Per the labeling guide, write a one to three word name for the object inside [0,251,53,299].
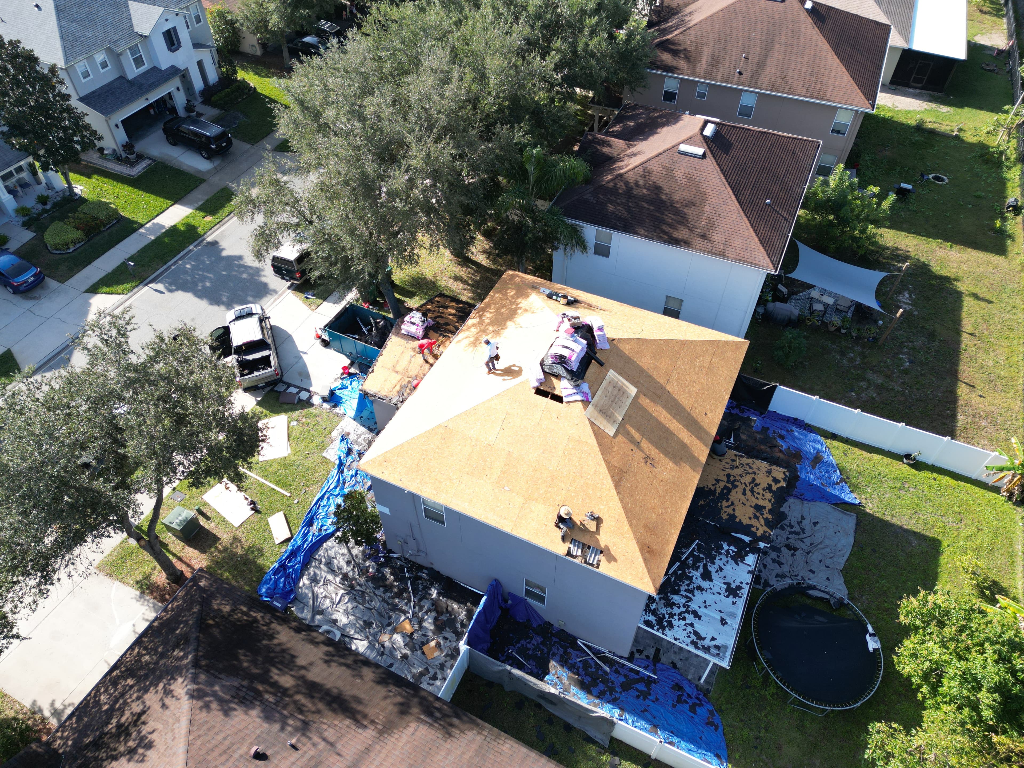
car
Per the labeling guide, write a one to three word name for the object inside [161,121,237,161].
car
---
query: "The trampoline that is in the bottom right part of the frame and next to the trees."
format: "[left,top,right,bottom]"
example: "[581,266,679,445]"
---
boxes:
[743,581,885,716]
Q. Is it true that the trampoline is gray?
No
